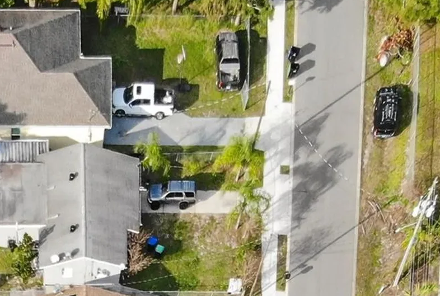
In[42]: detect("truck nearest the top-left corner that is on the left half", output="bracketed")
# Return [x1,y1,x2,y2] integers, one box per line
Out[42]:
[113,82,174,119]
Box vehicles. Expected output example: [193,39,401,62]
[374,86,402,142]
[149,181,197,211]
[113,82,174,119]
[217,35,244,101]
